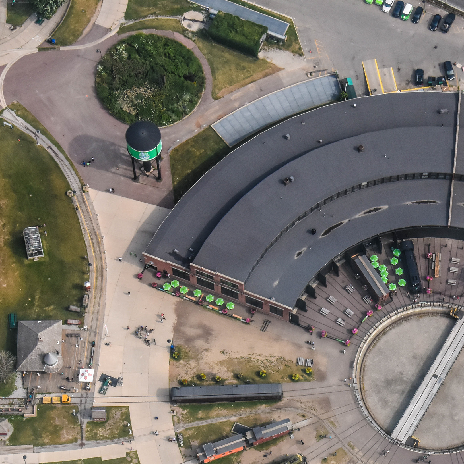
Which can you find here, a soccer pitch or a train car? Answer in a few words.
train car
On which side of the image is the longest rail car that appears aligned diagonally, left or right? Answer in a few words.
right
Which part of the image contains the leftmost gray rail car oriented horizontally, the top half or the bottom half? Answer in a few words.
bottom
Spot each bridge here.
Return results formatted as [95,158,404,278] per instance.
[393,309,464,446]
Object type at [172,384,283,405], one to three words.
rail car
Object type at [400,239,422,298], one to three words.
rail car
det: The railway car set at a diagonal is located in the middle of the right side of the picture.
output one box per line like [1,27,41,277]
[355,256,390,302]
